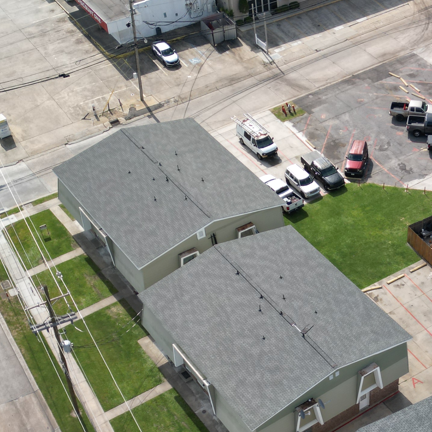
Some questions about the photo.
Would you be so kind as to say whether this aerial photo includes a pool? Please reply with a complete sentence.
No, the frame has no pool in it.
